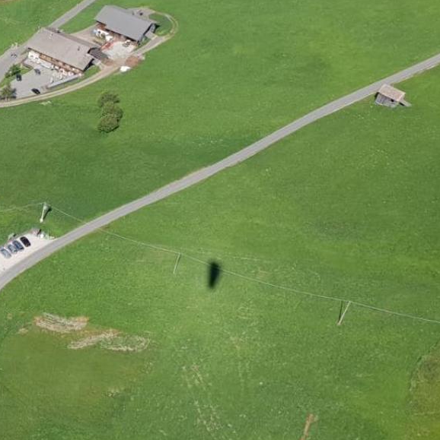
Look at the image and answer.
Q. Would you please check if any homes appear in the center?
No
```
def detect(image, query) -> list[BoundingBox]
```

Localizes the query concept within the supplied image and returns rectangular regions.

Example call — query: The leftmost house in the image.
[23,29,101,71]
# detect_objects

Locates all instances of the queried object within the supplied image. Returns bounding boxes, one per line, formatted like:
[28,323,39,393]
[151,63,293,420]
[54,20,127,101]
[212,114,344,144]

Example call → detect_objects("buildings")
[23,29,101,71]
[373,84,409,108]
[90,5,153,43]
